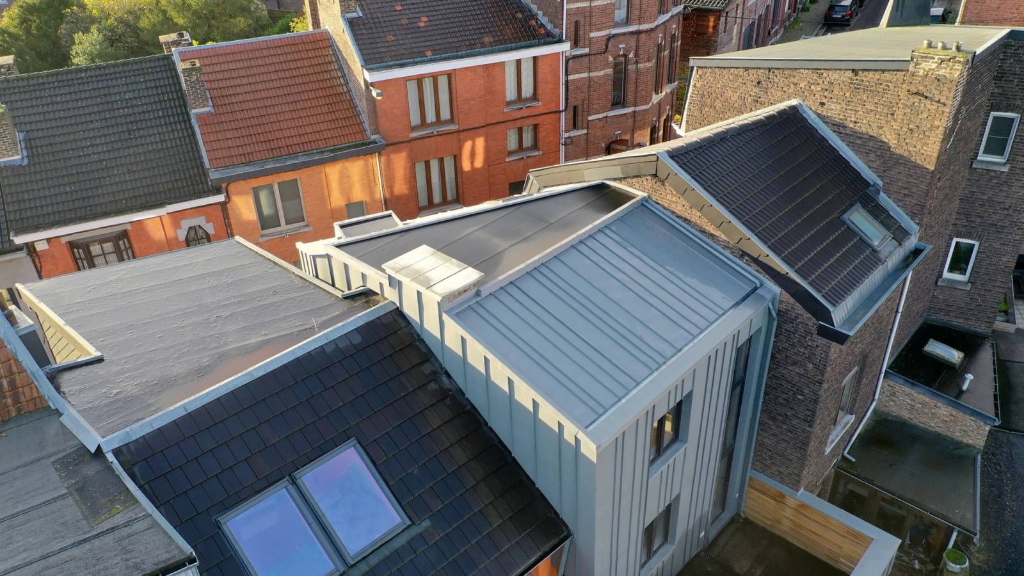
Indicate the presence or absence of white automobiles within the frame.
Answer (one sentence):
No, I can see no white automobile in this picture.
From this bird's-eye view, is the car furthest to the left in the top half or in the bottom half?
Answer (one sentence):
The top half of the photo is where the car furthest to the left is.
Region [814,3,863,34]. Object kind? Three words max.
car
